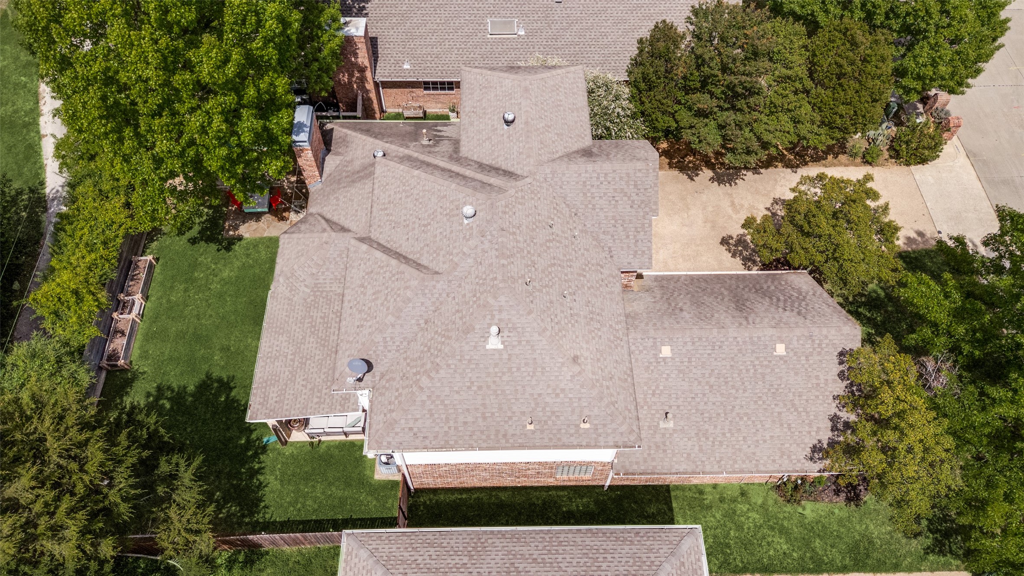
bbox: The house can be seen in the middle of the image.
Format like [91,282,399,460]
[242,66,859,501]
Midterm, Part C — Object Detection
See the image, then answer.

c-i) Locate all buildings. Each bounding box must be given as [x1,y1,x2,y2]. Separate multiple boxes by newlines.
[242,66,859,501]
[332,520,713,576]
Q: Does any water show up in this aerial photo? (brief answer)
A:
No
